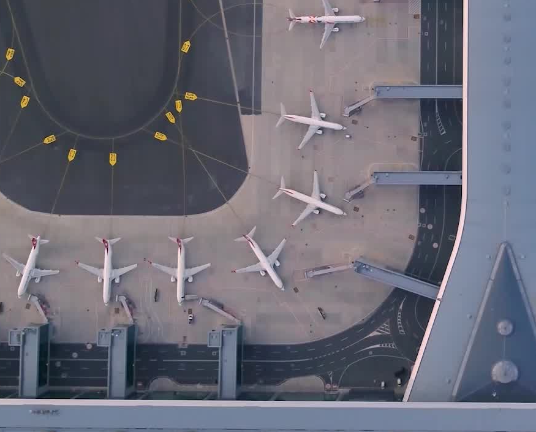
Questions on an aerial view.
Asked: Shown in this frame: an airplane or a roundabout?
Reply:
airplane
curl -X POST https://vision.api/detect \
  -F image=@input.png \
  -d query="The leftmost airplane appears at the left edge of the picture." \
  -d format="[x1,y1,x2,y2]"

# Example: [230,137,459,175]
[5,231,60,302]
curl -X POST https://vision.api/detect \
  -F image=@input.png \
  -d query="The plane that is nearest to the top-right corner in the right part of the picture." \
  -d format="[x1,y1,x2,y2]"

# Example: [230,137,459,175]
[288,0,365,48]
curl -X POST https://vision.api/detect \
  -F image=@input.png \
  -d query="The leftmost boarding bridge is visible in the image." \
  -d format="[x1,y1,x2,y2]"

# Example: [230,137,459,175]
[28,293,54,323]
